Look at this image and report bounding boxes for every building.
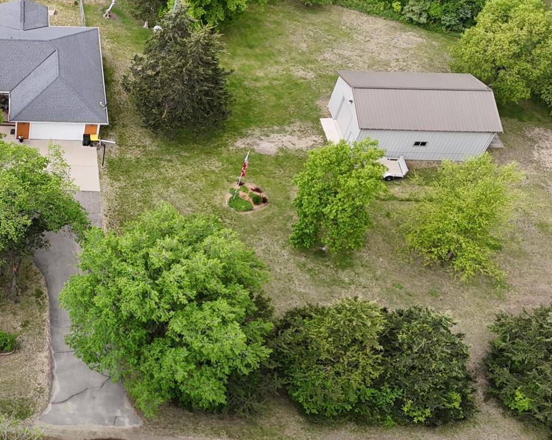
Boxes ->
[0,0,116,144]
[316,70,504,162]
